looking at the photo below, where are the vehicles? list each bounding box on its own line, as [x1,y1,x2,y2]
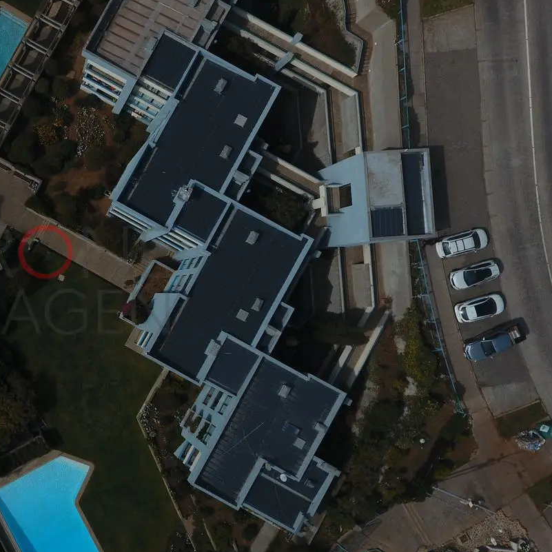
[459,322,527,362]
[447,258,499,287]
[451,293,504,322]
[431,229,486,258]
